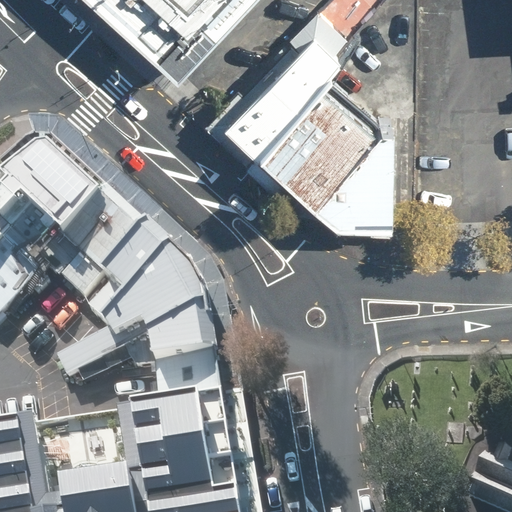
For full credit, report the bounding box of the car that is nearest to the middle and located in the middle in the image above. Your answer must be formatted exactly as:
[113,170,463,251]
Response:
[228,192,258,223]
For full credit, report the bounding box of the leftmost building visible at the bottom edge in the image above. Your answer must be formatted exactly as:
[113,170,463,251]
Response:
[0,410,63,512]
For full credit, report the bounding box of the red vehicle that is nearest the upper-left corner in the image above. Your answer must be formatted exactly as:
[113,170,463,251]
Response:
[117,145,146,173]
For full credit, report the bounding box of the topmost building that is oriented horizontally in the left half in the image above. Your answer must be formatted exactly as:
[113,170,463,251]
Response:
[56,0,266,92]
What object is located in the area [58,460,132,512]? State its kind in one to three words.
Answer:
house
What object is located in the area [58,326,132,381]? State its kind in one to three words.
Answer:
shed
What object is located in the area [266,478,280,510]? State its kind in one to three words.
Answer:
car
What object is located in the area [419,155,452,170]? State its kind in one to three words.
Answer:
car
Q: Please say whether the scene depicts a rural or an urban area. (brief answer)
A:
urban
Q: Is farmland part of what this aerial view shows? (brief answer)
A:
No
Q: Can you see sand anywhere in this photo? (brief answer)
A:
No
